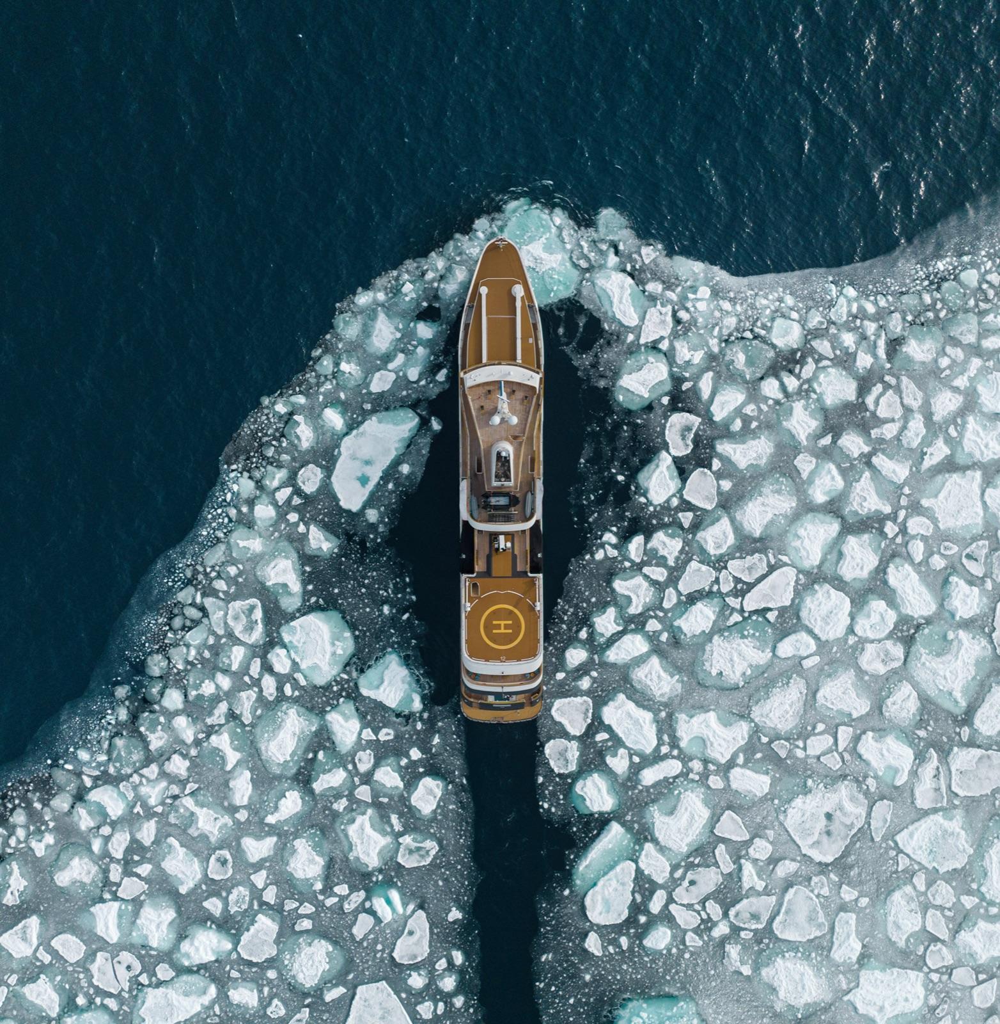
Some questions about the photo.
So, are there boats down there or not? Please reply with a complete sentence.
Yes, a boat appears in the view.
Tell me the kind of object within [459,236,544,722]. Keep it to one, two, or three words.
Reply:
boat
